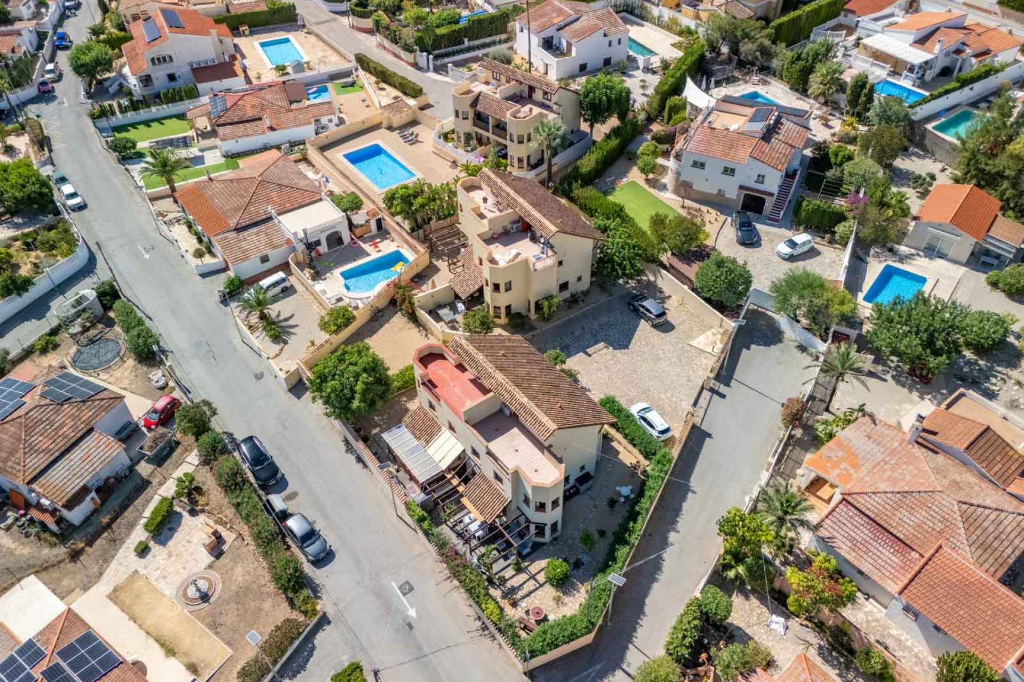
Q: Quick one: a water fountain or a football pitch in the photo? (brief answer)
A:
water fountain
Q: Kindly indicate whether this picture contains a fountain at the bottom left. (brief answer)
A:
Yes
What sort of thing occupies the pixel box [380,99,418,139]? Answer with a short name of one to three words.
building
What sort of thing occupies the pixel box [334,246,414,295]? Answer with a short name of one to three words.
swimming pool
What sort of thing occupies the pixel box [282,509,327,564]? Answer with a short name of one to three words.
car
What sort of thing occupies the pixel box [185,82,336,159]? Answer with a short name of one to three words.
house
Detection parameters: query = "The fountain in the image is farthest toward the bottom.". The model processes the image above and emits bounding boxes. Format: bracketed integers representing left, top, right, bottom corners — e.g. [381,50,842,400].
[172,567,224,614]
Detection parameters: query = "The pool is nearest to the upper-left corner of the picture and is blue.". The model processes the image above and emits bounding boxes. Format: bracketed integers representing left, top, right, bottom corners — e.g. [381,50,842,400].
[254,34,309,67]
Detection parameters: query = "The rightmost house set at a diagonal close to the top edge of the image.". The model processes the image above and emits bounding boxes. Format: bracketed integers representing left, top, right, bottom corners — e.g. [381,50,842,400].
[839,0,898,44]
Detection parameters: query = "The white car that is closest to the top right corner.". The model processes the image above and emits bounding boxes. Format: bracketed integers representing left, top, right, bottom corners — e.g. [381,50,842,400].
[774,232,818,259]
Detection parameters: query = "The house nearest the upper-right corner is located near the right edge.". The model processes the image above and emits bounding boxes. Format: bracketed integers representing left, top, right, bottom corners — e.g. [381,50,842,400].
[879,2,1020,76]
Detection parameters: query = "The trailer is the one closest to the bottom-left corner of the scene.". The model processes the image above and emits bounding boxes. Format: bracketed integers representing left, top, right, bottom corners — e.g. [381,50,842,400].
[134,425,175,459]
